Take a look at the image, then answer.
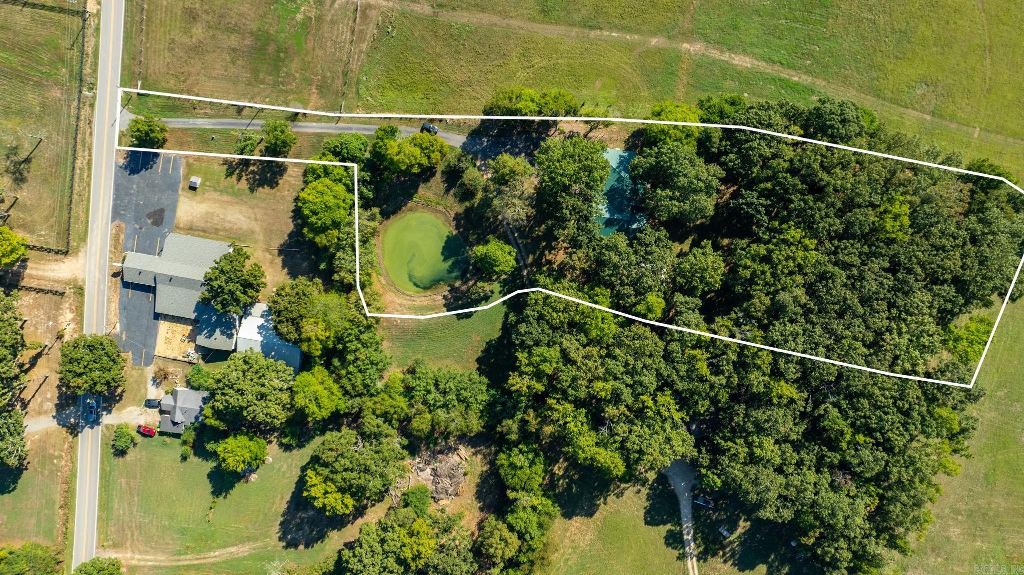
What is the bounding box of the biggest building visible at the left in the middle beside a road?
[123,232,241,350]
